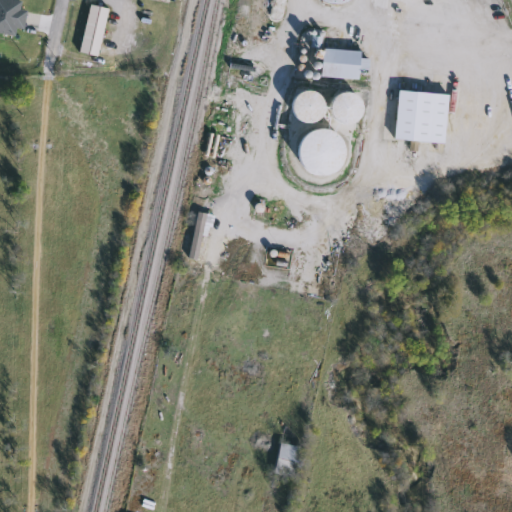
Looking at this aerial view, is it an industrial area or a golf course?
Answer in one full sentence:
It's an industrial area.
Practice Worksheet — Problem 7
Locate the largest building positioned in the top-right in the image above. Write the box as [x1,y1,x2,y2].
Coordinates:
[396,90,451,143]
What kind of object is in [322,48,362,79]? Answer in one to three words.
shed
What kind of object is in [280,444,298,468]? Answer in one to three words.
barn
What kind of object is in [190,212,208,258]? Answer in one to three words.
shed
